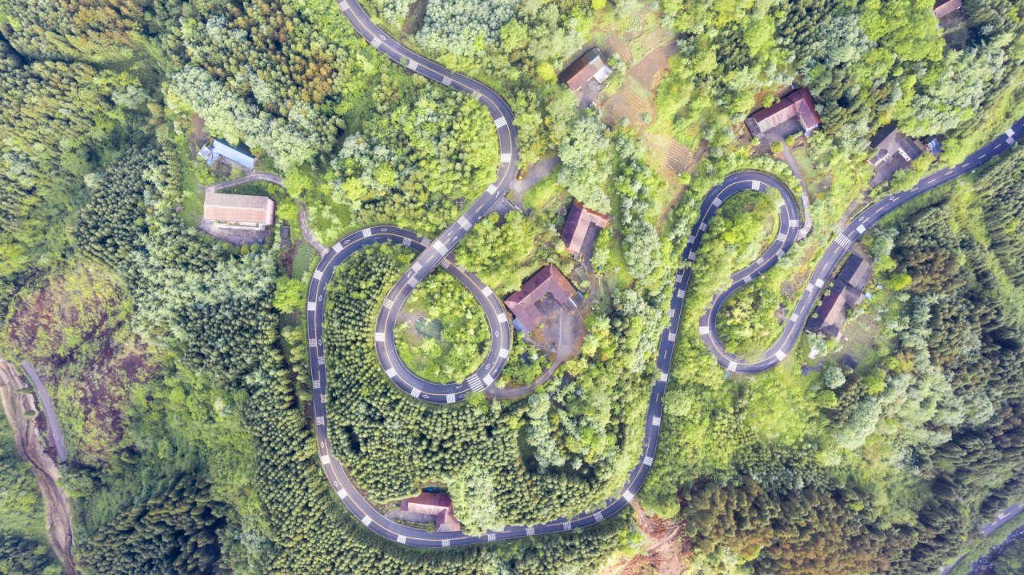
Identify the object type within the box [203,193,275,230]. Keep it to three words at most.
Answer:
house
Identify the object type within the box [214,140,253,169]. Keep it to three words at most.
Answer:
shed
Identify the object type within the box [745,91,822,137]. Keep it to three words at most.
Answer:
house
